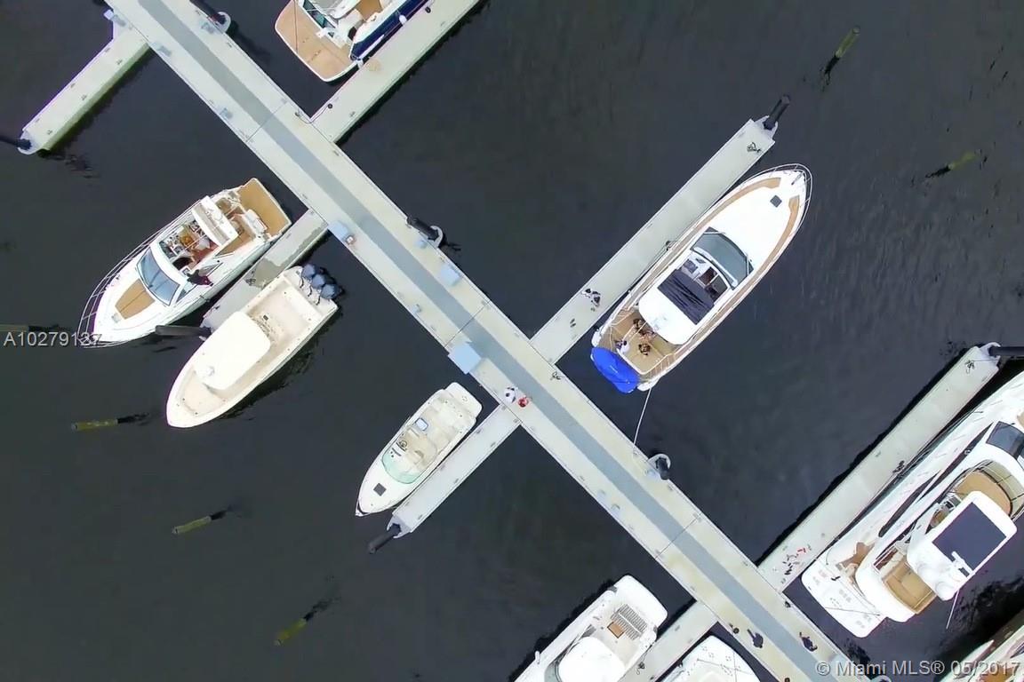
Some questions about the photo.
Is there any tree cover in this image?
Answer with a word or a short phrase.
No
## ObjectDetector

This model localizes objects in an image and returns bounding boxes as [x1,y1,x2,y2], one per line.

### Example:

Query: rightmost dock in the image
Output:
[756,338,1006,591]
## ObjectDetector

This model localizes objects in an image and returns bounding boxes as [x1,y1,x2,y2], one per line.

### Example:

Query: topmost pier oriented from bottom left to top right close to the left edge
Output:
[23,12,151,157]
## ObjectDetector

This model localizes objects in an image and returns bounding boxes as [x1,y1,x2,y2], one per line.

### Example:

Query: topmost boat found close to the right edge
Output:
[802,365,1024,635]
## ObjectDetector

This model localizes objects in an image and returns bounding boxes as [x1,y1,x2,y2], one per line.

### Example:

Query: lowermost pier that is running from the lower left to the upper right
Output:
[620,600,717,682]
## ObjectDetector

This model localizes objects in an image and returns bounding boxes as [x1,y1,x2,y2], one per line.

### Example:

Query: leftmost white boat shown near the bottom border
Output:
[513,575,667,682]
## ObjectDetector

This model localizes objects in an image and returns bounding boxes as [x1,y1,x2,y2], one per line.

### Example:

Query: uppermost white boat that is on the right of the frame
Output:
[593,160,819,392]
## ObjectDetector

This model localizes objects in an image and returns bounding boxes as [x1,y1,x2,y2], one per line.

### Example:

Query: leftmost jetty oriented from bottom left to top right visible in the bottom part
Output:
[384,403,521,541]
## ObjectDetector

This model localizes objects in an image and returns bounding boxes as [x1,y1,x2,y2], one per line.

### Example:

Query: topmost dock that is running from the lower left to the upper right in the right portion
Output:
[531,111,782,363]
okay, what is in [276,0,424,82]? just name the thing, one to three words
boat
